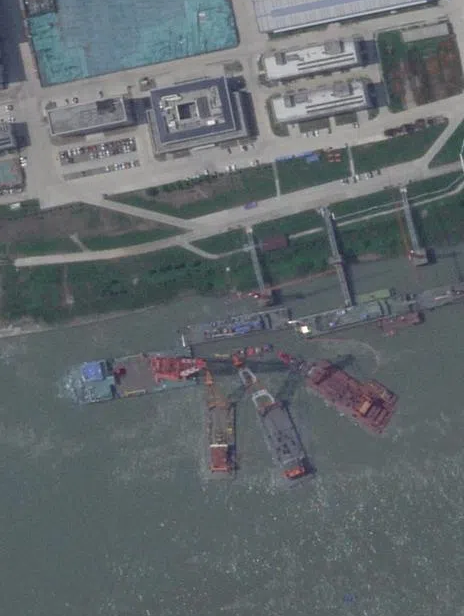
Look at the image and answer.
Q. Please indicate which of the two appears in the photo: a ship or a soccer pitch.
ship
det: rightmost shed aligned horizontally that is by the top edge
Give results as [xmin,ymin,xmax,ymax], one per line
[401,22,450,42]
